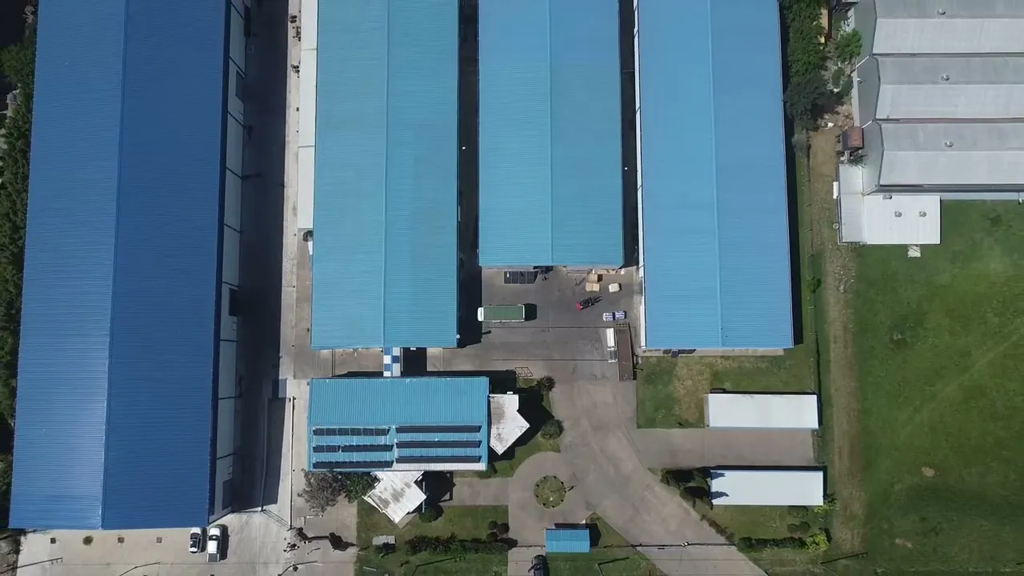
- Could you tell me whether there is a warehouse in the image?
Yes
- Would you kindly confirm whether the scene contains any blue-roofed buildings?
Yes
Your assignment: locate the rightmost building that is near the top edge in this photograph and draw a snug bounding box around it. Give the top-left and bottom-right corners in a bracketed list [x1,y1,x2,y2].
[854,0,1024,209]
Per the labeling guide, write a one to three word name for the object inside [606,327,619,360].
vehicle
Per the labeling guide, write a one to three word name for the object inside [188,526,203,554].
car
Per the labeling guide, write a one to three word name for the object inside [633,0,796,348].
warehouse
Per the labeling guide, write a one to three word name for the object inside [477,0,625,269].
warehouse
